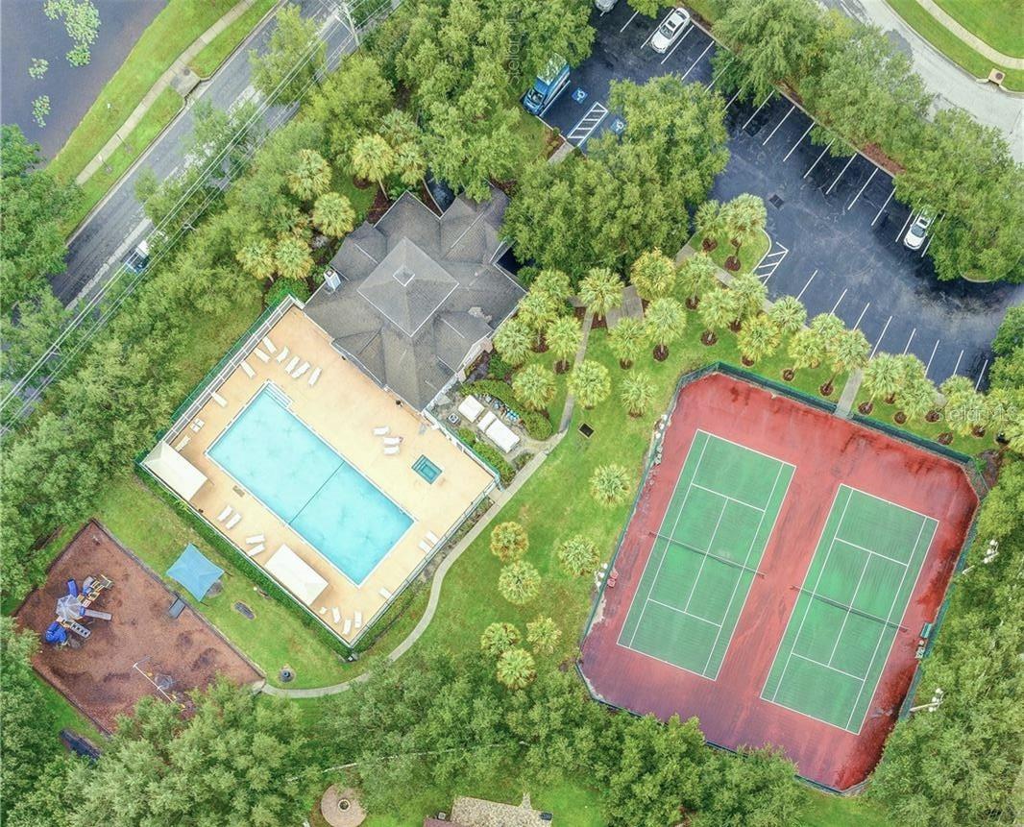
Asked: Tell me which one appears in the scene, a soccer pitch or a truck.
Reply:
truck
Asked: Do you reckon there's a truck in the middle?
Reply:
No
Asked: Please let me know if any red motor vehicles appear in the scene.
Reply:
No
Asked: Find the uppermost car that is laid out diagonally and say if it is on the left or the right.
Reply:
right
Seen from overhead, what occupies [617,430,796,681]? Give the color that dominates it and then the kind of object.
green tennis court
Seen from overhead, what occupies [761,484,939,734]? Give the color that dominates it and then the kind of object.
green tennis court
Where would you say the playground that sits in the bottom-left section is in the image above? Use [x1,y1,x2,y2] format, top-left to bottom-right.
[21,524,258,734]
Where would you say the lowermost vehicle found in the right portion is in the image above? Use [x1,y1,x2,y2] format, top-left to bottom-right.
[908,202,942,247]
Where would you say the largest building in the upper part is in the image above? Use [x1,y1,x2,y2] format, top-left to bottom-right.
[304,189,526,419]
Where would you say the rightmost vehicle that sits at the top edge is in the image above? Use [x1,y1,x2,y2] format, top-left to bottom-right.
[655,1,692,49]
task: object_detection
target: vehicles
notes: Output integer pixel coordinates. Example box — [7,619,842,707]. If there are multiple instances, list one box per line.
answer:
[524,50,571,122]
[908,202,942,247]
[655,1,692,49]
[121,235,158,276]
[596,0,618,13]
